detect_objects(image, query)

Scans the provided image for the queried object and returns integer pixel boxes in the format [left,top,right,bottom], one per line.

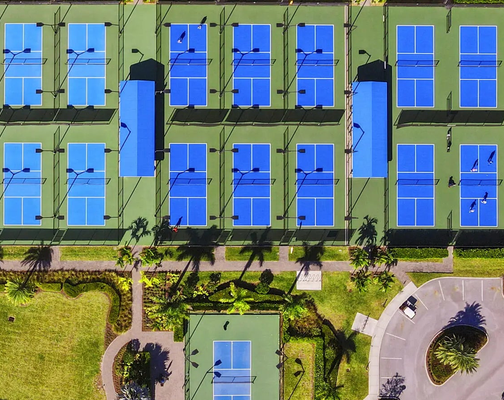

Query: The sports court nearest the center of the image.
[233,144,270,226]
